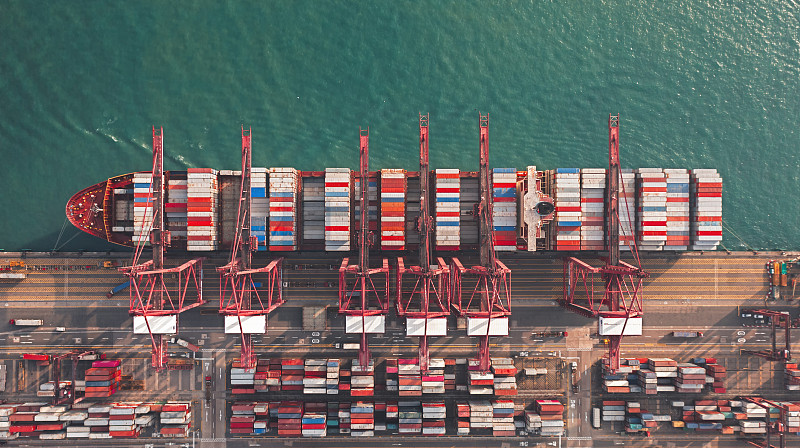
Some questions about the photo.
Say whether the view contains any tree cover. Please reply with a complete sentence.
No, no tree cover is visible.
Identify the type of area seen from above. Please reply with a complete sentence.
The picture captures a port.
